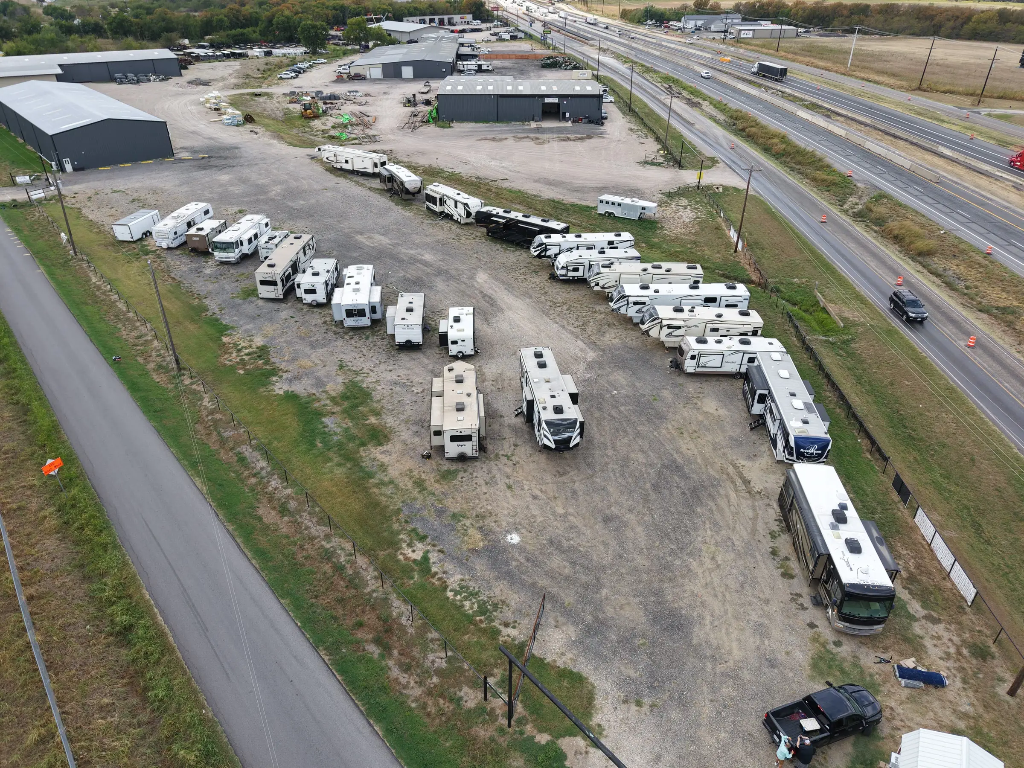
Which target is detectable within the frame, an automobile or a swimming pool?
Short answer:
automobile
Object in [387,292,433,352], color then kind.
white vehicle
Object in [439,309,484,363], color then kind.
white vehicle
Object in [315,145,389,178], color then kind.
white camper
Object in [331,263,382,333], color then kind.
white camper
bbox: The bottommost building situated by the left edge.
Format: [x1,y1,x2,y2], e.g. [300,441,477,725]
[0,80,174,172]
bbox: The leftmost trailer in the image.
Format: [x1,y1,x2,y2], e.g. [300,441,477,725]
[111,210,160,242]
